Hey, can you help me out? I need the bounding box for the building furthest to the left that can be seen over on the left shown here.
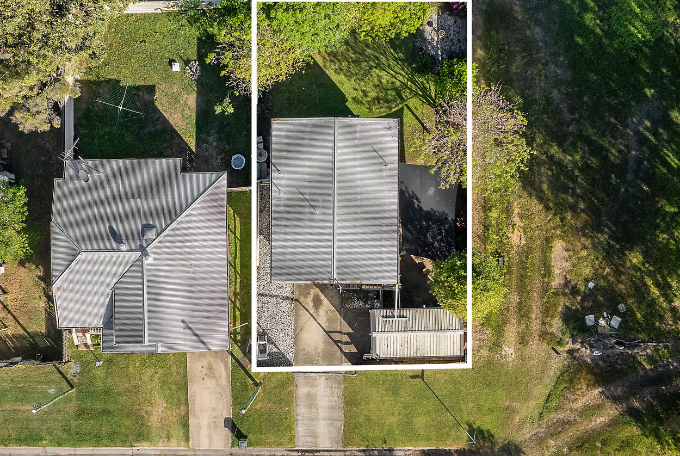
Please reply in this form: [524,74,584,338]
[47,138,231,356]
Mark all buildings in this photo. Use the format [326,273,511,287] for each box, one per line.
[47,138,231,356]
[268,116,402,293]
[369,307,466,360]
